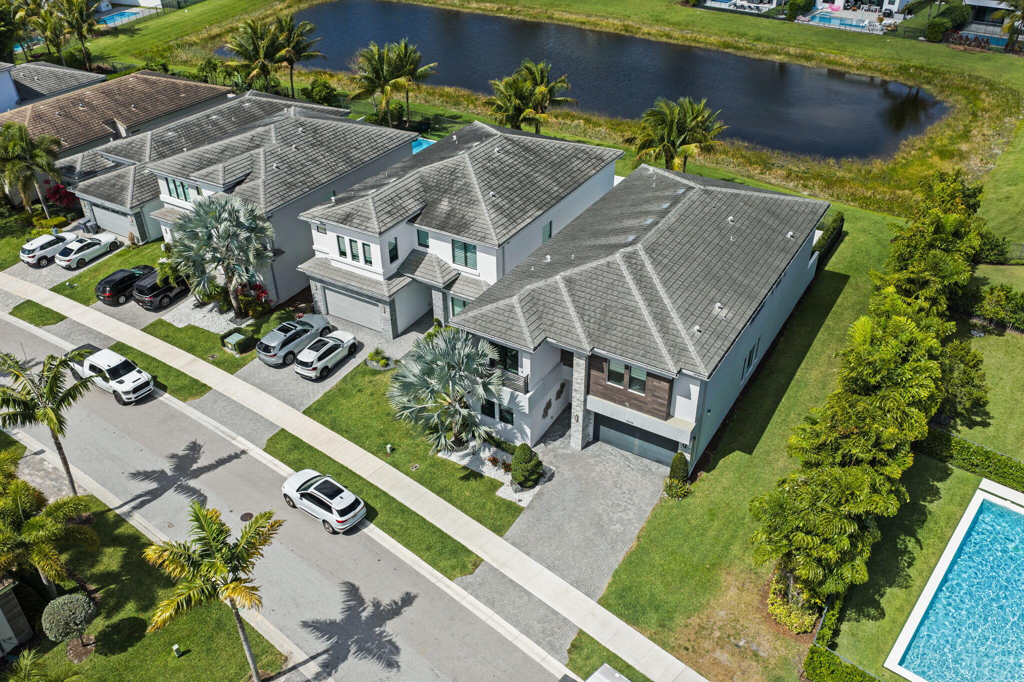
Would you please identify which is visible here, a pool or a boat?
pool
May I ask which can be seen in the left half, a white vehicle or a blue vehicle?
white vehicle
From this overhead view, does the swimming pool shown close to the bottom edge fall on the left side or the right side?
right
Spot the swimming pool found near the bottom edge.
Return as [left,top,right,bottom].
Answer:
[884,488,1024,682]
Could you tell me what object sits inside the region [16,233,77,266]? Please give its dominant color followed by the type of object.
white car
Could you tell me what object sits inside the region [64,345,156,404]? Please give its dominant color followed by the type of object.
white truck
